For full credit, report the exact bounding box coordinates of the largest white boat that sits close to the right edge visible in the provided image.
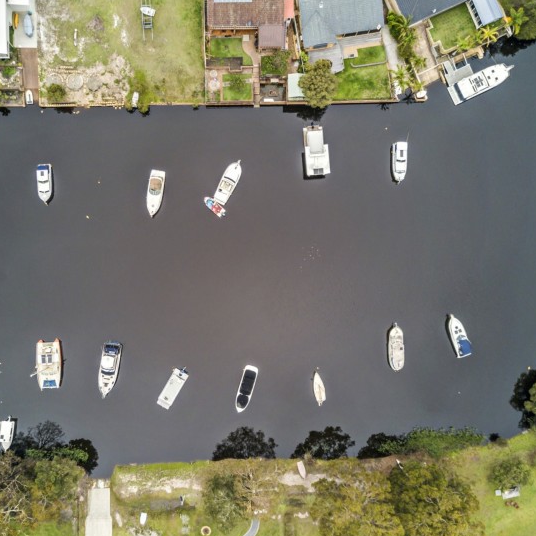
[443,55,515,108]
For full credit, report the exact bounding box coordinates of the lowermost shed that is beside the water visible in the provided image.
[288,74,307,102]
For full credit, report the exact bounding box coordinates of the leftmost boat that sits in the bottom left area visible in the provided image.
[0,420,16,452]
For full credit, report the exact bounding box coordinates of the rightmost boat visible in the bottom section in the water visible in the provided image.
[447,314,470,359]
